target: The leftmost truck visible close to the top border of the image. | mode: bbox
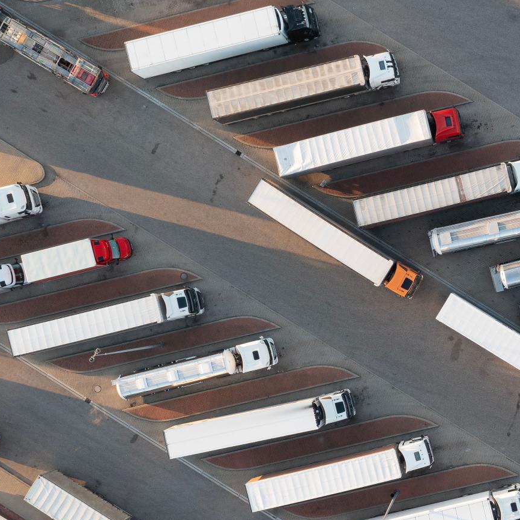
[0,6,114,99]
